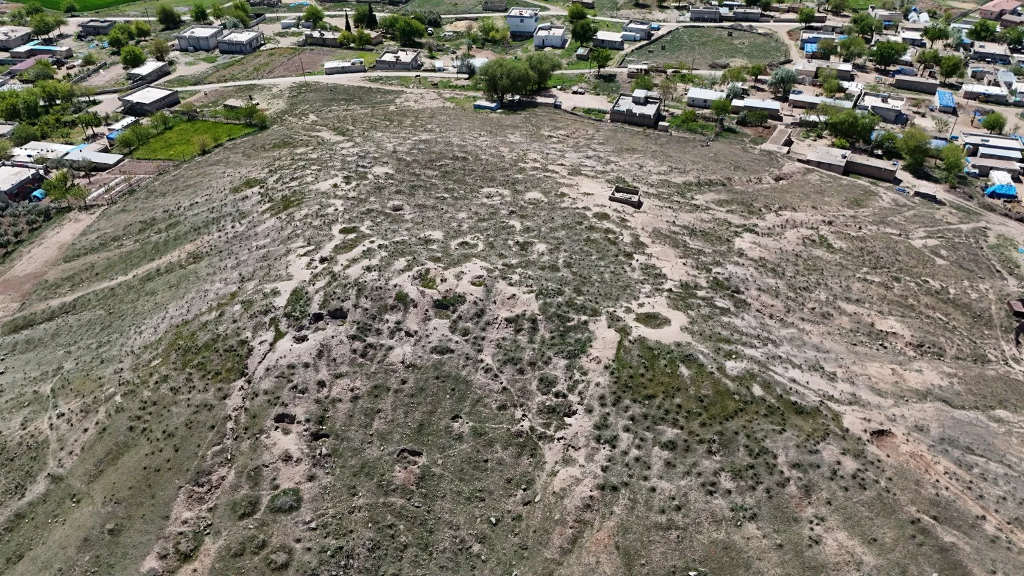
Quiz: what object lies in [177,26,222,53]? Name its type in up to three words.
house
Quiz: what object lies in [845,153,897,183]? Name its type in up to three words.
house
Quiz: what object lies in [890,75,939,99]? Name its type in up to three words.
barn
